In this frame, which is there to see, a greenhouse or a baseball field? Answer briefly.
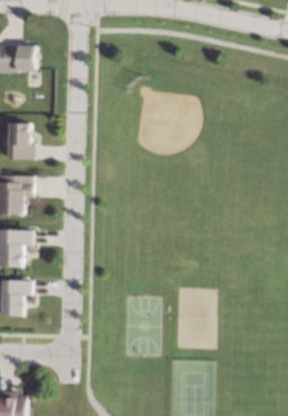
baseball field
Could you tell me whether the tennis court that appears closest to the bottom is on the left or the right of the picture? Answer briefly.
right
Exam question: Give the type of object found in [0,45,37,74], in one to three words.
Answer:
house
